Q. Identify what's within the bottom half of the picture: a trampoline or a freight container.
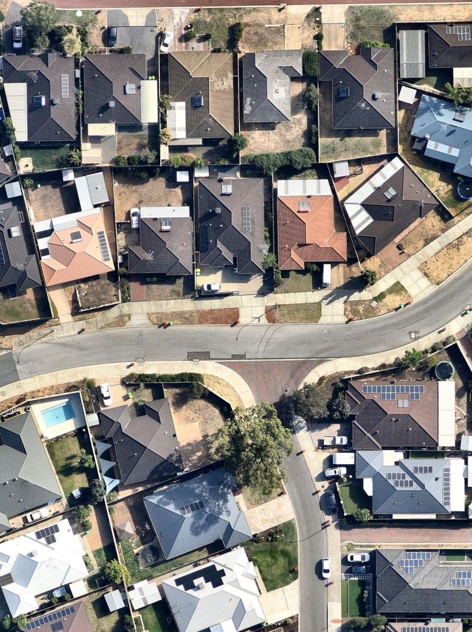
trampoline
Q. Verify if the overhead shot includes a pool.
Yes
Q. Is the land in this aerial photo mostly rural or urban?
urban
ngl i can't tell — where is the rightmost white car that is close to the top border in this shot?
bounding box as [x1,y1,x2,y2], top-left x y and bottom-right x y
[160,31,173,52]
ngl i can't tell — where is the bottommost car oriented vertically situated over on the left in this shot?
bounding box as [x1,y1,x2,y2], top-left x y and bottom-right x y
[99,382,111,406]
